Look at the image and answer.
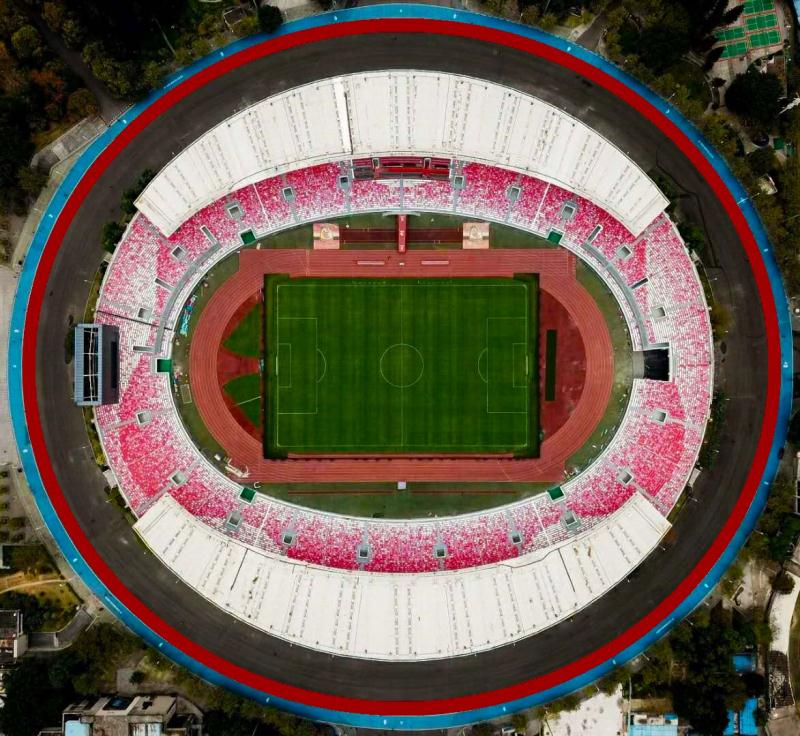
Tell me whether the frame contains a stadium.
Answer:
Yes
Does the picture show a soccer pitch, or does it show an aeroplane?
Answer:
soccer pitch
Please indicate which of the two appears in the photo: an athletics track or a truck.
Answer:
athletics track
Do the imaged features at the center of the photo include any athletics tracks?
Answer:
Yes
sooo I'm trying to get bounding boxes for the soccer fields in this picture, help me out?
[263,273,540,458]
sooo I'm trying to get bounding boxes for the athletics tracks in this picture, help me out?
[191,248,614,482]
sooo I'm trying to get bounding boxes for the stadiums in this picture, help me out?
[95,70,715,661]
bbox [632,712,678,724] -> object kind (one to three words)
building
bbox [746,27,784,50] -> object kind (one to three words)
sports court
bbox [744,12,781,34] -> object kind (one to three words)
sports court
